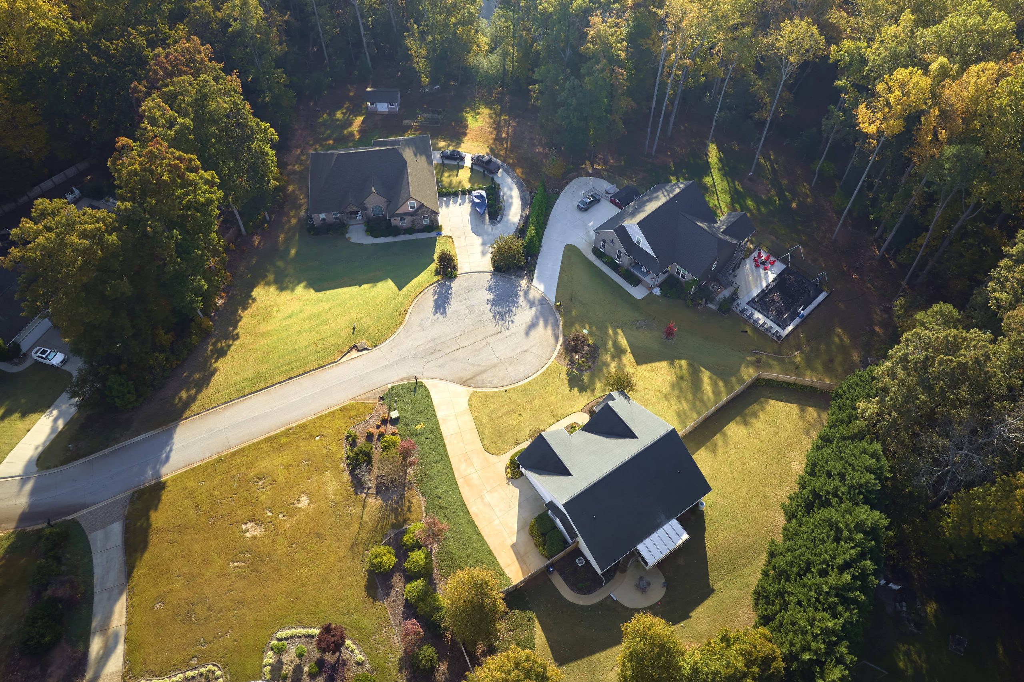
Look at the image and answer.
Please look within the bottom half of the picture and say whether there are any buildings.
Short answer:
Yes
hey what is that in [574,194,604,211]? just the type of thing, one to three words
car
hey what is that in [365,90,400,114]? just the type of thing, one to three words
shed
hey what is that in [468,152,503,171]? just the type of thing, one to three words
vehicle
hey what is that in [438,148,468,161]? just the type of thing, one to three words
vehicle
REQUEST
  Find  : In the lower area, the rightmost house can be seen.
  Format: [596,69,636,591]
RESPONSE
[513,389,711,595]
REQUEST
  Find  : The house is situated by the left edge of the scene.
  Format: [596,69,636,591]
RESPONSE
[0,284,53,358]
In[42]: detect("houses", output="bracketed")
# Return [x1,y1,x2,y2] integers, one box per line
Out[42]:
[513,389,711,595]
[593,179,758,291]
[306,134,439,227]
[0,284,53,358]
